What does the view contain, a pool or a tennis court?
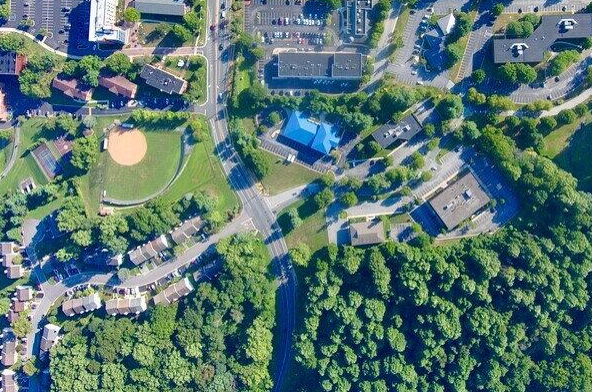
tennis court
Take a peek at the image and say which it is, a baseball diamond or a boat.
baseball diamond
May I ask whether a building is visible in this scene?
Yes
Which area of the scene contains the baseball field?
left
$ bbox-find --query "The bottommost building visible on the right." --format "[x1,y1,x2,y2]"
[350,216,385,245]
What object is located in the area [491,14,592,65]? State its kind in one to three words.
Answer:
building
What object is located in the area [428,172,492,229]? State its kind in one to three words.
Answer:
building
